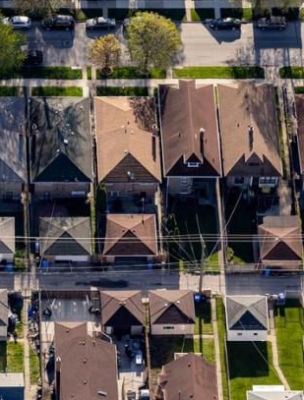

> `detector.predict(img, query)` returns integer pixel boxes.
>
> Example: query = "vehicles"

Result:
[44,14,74,29]
[209,16,239,30]
[85,16,115,30]
[3,15,30,28]
[122,14,152,28]
[257,14,288,29]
